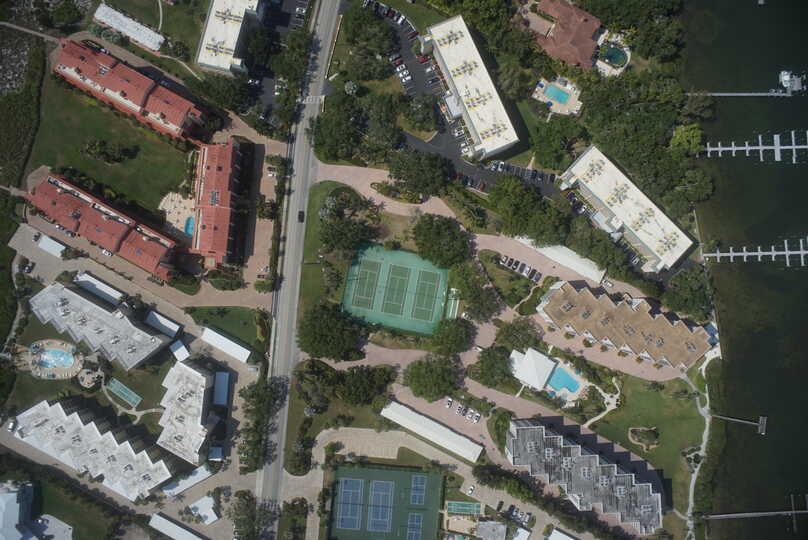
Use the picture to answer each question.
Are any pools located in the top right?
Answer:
Yes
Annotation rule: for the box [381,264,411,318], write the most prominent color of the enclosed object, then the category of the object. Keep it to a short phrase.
green tennis court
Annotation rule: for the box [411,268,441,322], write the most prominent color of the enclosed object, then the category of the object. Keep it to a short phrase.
green tennis court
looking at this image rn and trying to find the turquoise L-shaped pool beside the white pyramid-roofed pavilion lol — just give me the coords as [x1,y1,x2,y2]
[545,361,590,403]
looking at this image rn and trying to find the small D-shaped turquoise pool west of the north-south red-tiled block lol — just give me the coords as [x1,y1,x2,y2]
[159,192,196,250]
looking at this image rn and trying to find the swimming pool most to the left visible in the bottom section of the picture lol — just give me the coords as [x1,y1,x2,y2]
[30,339,83,380]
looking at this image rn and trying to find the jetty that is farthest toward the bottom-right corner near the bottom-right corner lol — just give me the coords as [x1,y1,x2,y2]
[699,493,808,533]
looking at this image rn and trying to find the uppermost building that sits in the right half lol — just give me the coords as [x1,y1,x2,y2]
[533,0,602,71]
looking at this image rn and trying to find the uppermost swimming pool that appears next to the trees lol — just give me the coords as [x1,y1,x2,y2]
[599,40,627,66]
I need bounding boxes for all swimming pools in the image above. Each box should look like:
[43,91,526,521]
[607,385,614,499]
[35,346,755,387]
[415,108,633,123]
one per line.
[30,339,83,380]
[545,361,590,403]
[599,40,627,66]
[159,192,196,250]
[532,77,583,114]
